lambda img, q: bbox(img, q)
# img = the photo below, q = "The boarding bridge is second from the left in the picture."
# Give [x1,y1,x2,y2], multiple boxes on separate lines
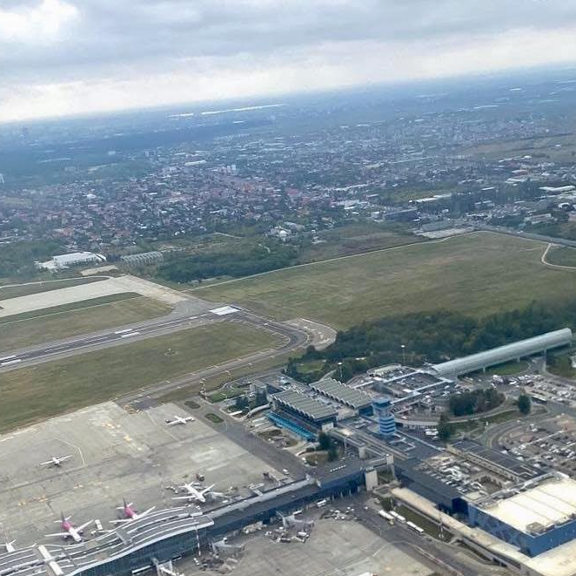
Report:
[206,538,243,559]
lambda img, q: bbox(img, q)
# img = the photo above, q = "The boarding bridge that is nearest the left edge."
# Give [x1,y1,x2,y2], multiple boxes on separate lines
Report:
[157,557,182,576]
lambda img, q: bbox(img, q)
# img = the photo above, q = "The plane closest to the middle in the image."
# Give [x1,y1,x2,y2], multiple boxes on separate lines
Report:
[166,410,194,426]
